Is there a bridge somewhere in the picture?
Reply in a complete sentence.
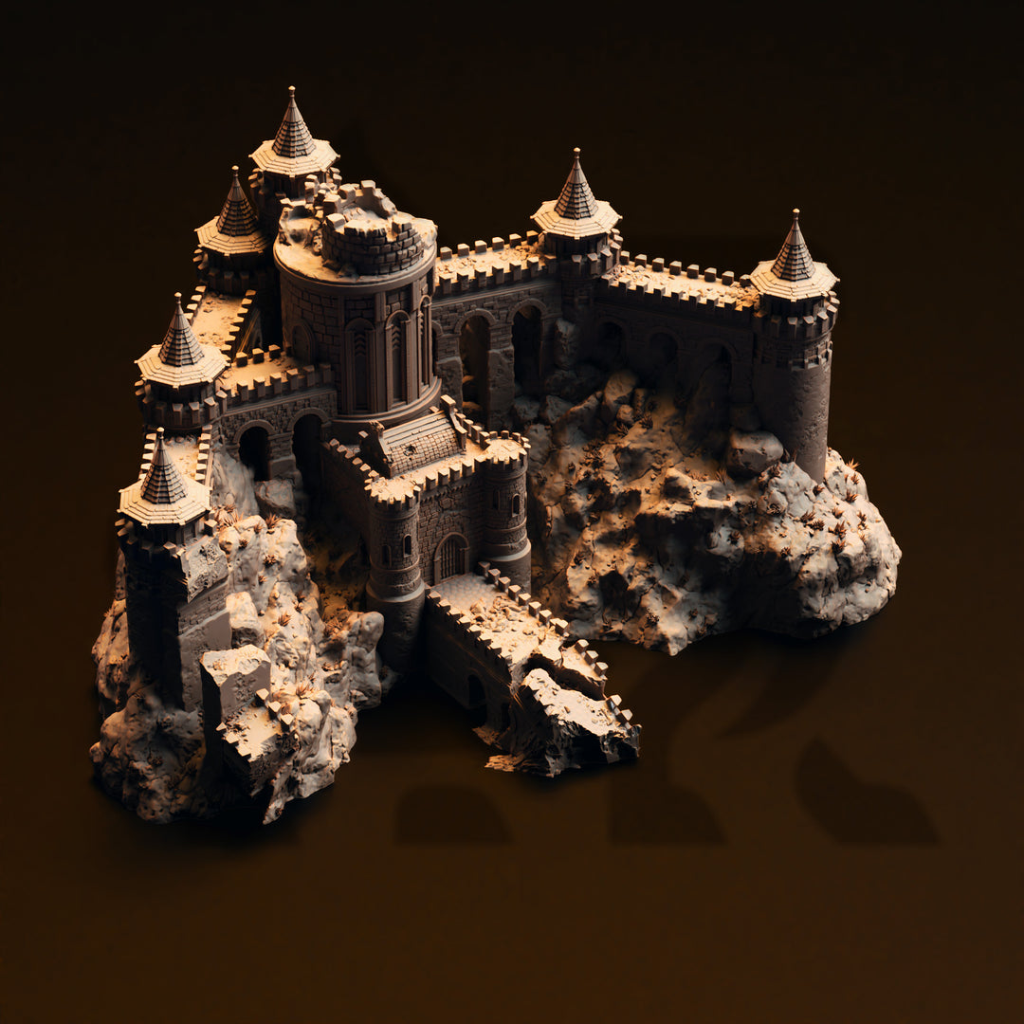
Yes, the picture does show a bridge.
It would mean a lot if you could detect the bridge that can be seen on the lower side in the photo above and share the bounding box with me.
[413,553,574,754]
